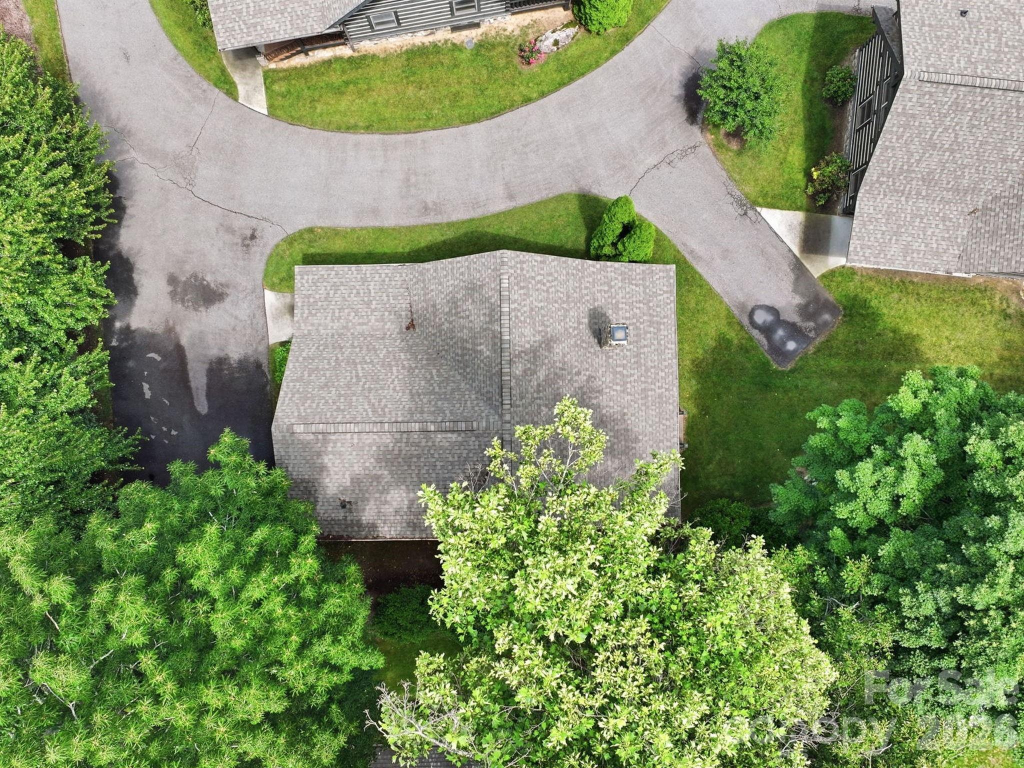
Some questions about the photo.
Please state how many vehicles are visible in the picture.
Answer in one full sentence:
The photo contains no vehicles.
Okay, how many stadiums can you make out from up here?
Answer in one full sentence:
The picture shows no stadiums.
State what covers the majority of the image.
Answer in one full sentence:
The largest share of the image is taken up by trees.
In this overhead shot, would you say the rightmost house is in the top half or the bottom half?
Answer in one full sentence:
It is in the top half that the rightmost house appears.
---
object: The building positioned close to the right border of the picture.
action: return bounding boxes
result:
[836,0,1024,285]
